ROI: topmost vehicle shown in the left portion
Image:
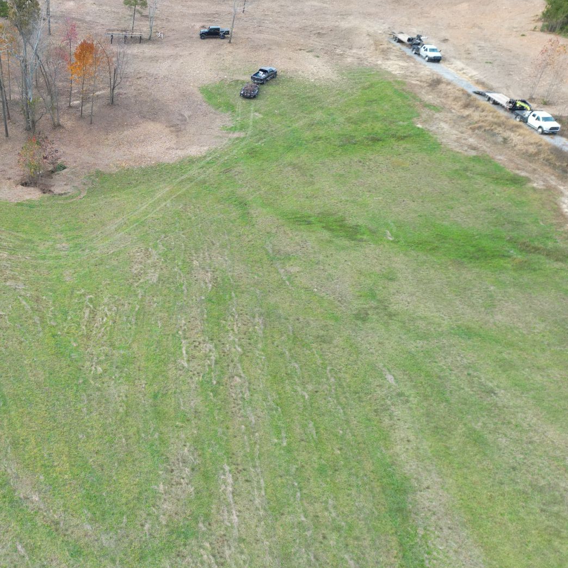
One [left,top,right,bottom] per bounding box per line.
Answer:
[199,23,231,38]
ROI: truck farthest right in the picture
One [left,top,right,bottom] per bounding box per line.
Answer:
[512,109,558,133]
